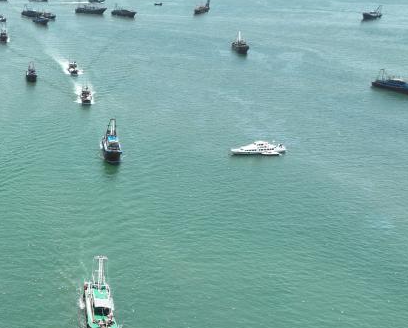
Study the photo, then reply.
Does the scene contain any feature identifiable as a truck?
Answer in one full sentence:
No, there's no truck here.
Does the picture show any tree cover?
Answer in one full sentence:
No, there's no tree cover in this view.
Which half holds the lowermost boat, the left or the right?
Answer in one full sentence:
The lowermost boat appears in the left half of the scene.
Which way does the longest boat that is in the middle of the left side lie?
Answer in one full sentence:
In this picture, the longest boat that is in the middle of the left side is oriented vertically.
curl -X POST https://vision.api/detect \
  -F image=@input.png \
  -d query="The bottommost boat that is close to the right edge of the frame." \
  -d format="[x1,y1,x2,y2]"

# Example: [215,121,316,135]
[366,63,408,93]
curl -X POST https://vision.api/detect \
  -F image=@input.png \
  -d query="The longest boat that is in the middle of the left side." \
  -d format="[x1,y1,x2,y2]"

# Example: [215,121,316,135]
[100,119,121,162]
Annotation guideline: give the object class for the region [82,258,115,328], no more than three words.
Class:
boat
